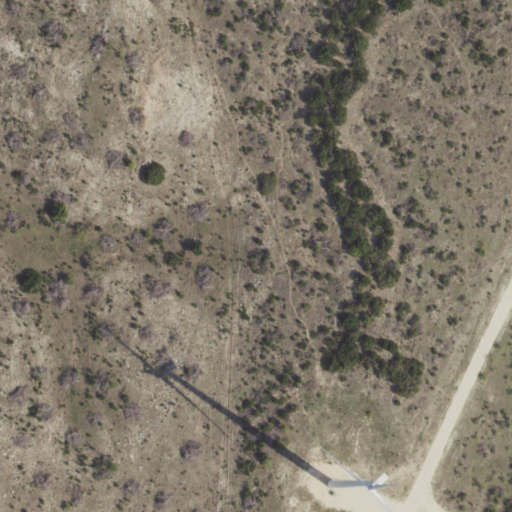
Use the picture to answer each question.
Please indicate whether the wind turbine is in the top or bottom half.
bottom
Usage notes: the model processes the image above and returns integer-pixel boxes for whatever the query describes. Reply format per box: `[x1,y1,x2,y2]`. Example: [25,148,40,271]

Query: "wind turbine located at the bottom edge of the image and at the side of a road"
[308,438,404,512]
